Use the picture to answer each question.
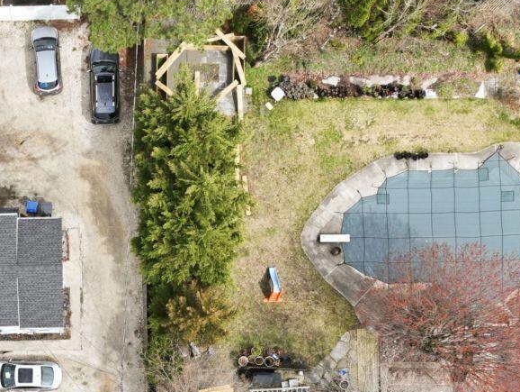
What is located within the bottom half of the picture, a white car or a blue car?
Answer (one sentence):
The one visible within the bottom half of the picture is a white car.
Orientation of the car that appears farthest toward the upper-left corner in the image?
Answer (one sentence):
In this picture, the car that appears farthest toward the upper-left corner is oriented up and down.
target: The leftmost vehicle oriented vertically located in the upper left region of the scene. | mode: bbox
[28,28,63,100]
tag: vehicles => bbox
[28,28,63,100]
[0,357,63,392]
[84,50,123,128]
